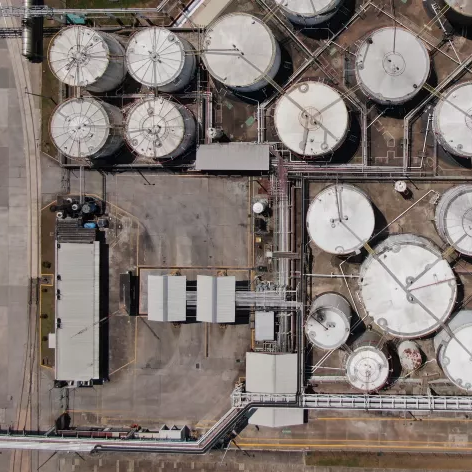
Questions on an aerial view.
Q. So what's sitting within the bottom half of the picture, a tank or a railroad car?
tank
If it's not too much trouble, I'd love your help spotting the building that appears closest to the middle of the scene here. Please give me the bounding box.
[255,309,274,340]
